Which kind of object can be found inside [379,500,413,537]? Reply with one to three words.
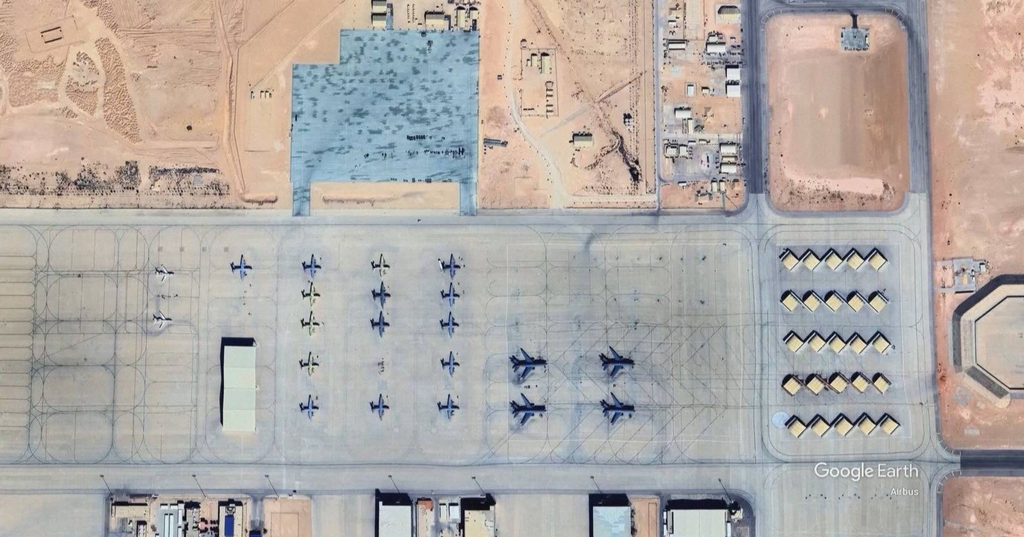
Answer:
hangar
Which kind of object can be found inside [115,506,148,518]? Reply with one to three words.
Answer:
building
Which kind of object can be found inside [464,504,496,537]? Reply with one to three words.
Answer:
hangar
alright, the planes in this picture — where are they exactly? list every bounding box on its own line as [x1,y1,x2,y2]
[511,392,546,424]
[300,312,319,338]
[301,255,321,281]
[369,395,389,421]
[440,395,459,421]
[370,313,389,338]
[440,353,459,378]
[371,283,390,309]
[439,312,459,338]
[600,392,634,424]
[300,283,320,309]
[151,311,171,328]
[600,347,635,379]
[232,256,252,282]
[299,396,318,422]
[510,348,547,379]
[370,255,390,281]
[153,264,173,281]
[299,353,319,379]
[441,255,460,281]
[440,283,459,309]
